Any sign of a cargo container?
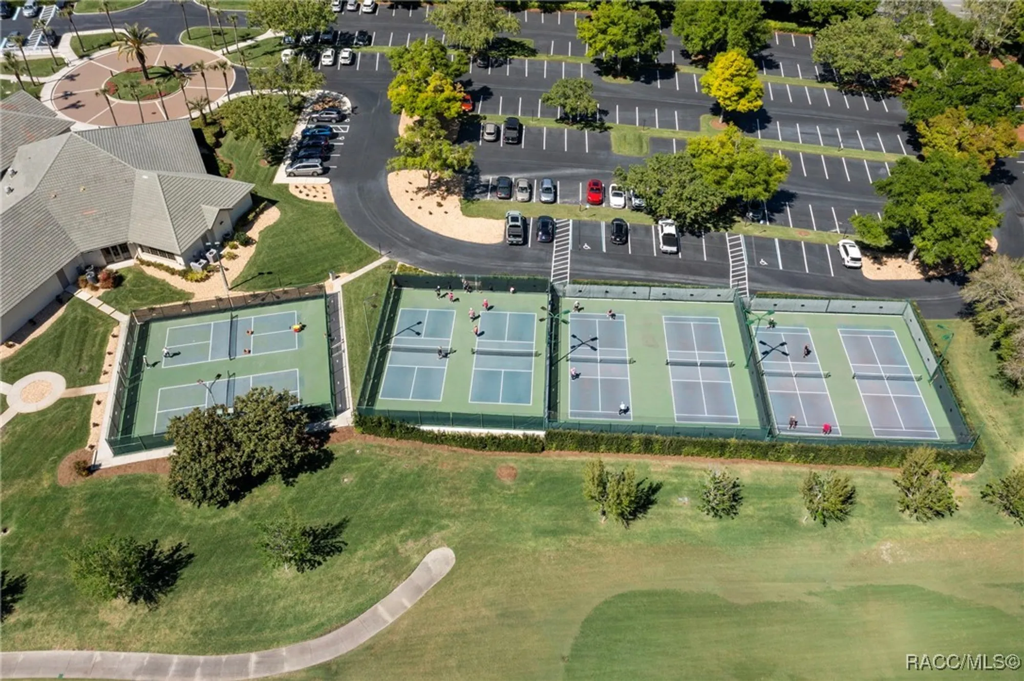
No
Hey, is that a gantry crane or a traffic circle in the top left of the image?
traffic circle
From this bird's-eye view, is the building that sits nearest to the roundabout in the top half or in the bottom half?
top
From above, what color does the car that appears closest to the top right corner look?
white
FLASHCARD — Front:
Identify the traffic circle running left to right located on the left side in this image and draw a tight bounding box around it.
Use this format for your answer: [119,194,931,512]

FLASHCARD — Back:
[49,43,236,126]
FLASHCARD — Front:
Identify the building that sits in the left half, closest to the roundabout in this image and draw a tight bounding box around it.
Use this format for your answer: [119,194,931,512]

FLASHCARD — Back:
[0,90,255,340]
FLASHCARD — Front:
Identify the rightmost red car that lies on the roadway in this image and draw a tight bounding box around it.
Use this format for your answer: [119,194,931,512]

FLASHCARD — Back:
[587,179,604,202]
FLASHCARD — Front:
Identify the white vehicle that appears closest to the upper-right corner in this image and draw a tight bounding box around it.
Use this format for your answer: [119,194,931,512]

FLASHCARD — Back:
[841,239,864,267]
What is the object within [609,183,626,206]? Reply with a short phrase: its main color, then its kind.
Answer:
white car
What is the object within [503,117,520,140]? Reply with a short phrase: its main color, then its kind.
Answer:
black vehicle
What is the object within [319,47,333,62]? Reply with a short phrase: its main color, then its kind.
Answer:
white car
